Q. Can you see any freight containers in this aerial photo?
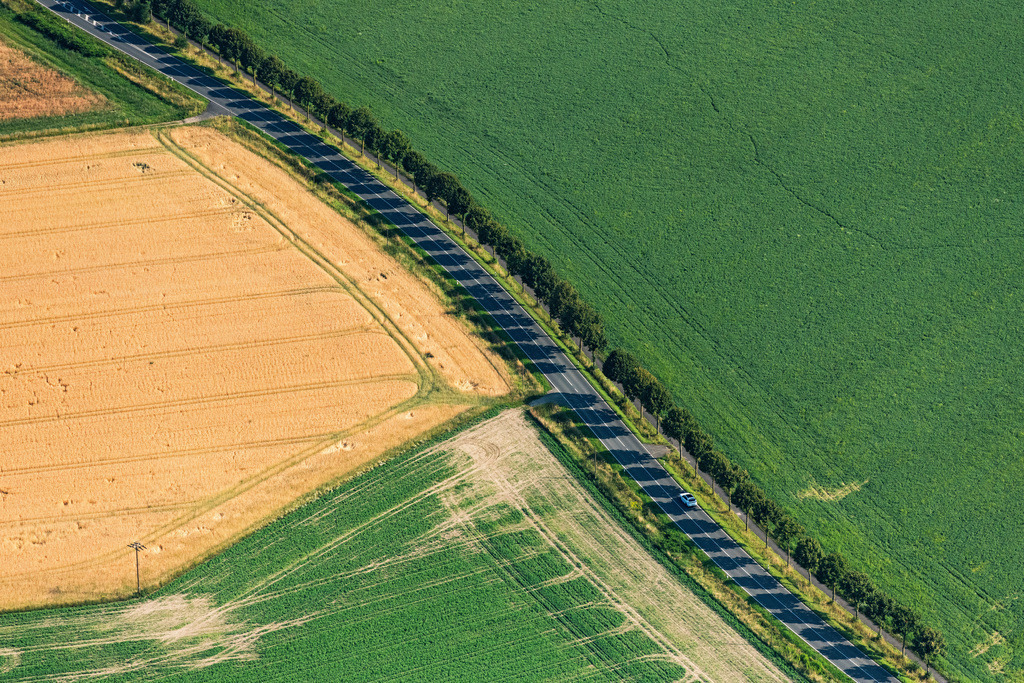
No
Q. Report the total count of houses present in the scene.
0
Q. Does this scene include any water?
No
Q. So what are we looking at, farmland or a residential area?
farmland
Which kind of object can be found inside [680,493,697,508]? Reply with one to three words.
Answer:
car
